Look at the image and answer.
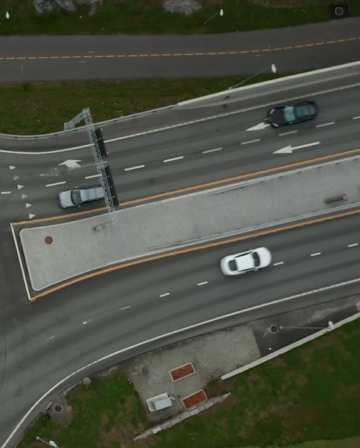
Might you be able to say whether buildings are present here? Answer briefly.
No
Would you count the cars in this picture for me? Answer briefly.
3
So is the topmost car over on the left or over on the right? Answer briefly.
right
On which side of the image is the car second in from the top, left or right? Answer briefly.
left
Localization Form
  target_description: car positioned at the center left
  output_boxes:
[61,187,106,209]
